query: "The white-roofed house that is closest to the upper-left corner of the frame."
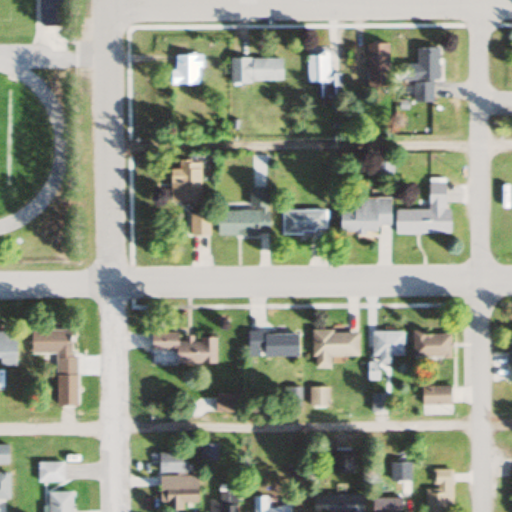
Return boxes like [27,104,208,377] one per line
[172,51,206,86]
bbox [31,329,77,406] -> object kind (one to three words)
house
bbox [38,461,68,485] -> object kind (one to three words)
building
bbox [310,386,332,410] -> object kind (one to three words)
building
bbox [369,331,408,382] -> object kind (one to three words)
house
